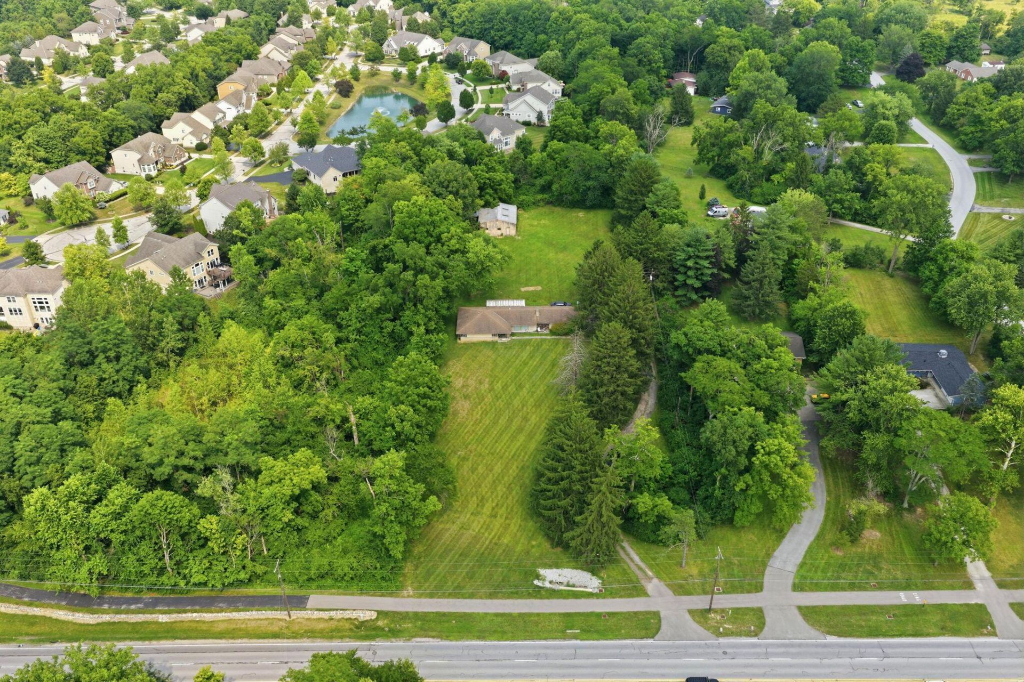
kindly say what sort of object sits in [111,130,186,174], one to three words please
house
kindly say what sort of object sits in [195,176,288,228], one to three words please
house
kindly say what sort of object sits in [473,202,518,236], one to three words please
barn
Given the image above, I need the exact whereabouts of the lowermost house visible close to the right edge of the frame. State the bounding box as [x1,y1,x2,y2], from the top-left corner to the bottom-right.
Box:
[899,337,992,408]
